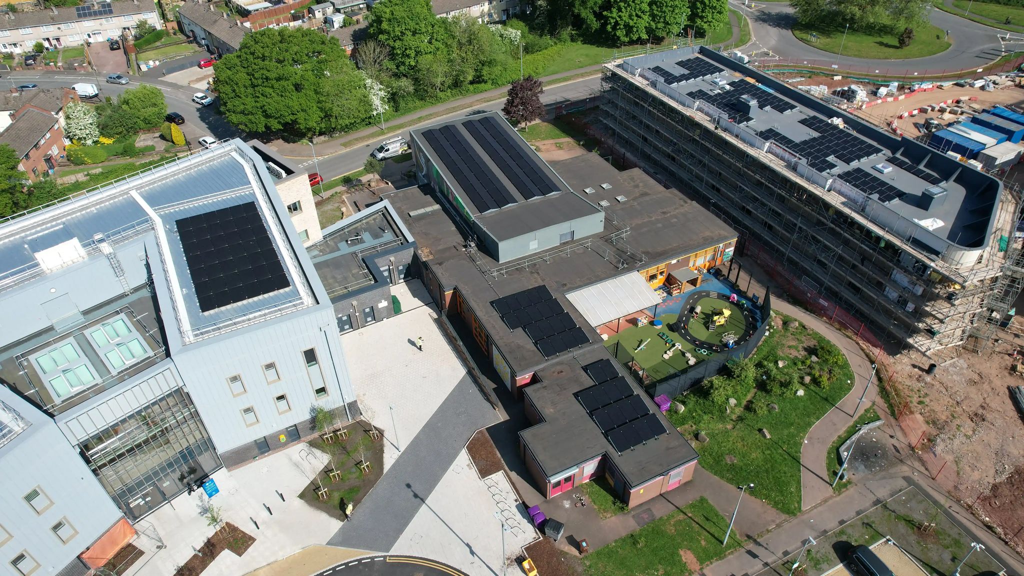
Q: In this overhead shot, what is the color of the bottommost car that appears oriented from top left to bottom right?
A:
black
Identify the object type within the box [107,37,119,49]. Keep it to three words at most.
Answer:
vehicle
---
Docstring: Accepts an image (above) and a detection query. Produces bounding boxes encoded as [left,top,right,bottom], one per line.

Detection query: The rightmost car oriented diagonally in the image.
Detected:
[838,531,900,576]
